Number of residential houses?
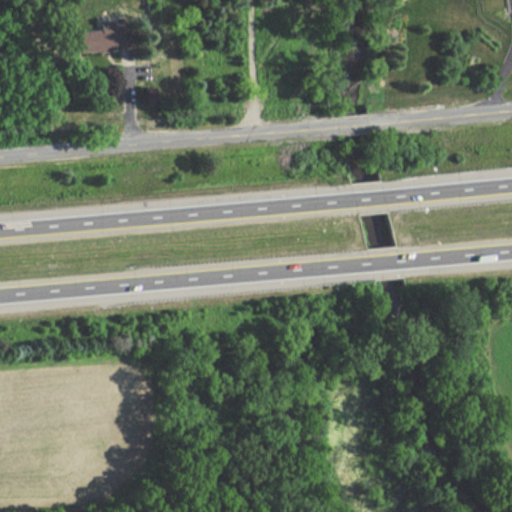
1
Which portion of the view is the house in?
top left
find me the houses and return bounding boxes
[84,18,126,54]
